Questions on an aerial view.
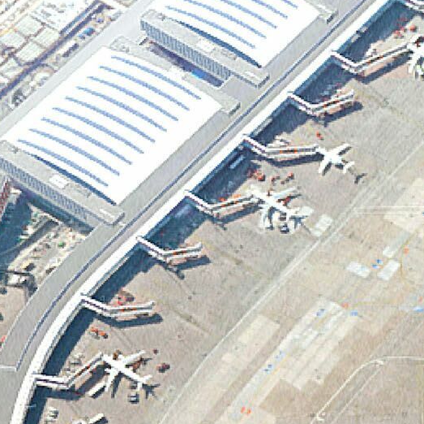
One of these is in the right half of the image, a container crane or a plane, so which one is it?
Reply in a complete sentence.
What appears in the right half of the image is a plane.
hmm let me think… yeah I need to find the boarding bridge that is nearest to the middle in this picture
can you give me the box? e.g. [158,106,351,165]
[186,196,258,221]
